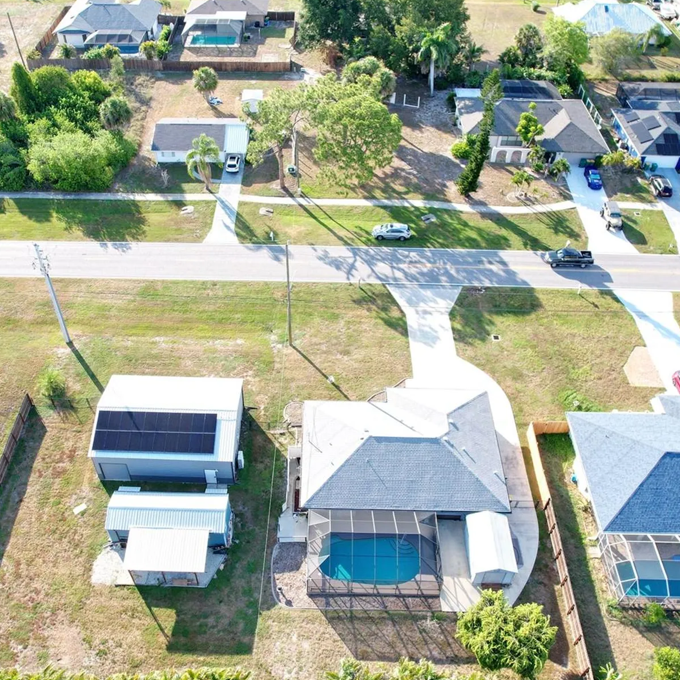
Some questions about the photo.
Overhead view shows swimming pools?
Yes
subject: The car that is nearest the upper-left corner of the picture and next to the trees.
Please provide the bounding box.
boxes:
[224,154,241,177]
